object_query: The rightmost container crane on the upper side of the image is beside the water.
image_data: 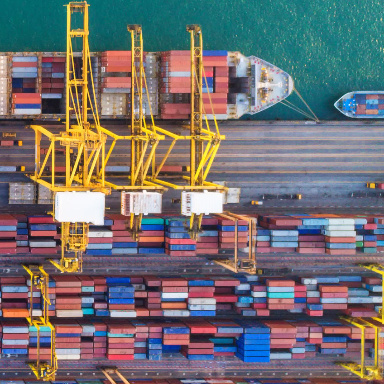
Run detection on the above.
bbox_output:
[143,23,227,243]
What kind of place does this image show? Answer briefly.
port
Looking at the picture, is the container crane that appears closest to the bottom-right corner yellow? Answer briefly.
Yes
